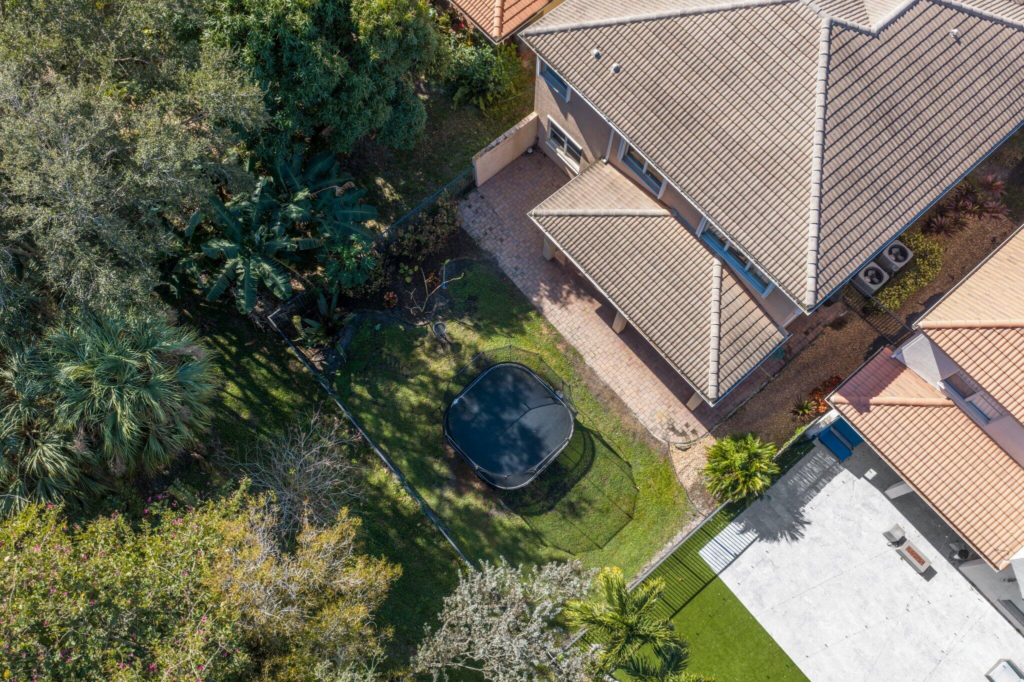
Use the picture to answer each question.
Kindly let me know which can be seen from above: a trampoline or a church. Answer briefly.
trampoline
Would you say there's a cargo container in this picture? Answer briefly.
No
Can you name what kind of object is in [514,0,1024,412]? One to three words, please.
house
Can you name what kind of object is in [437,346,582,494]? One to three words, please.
trampoline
